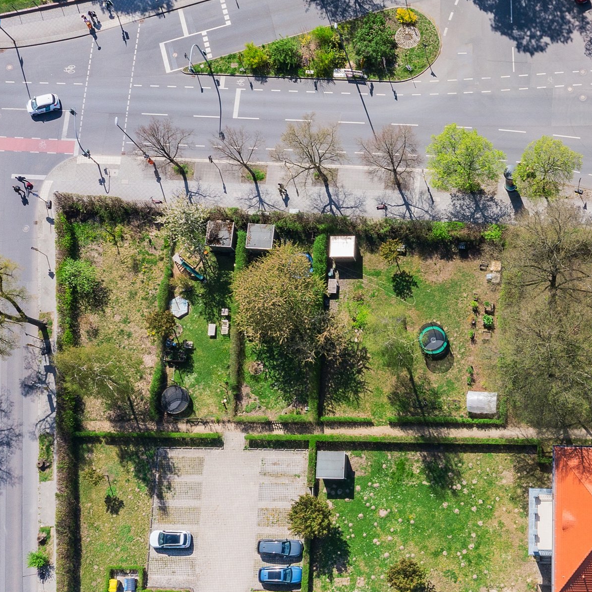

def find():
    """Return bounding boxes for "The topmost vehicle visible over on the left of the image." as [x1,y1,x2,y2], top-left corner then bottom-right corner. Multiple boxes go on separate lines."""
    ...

[28,95,61,116]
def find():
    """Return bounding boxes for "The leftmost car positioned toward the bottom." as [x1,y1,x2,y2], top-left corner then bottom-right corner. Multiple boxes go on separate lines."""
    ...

[149,529,191,550]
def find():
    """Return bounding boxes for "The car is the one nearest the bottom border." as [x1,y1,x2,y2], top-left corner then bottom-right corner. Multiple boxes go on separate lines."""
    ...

[258,565,302,588]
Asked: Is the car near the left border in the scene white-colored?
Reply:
Yes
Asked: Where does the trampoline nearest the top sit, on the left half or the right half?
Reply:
right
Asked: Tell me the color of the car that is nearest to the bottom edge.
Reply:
blue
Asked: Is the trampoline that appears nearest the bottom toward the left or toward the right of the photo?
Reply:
left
